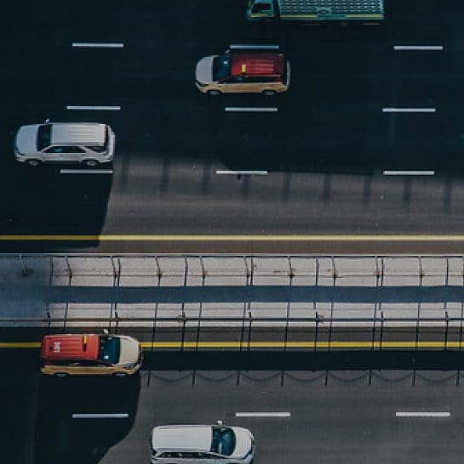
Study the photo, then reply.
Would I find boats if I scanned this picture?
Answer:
No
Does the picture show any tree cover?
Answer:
No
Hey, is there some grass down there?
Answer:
No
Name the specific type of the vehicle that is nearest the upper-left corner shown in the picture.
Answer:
car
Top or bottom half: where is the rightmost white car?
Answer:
bottom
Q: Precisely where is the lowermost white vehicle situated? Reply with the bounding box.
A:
[151,421,255,464]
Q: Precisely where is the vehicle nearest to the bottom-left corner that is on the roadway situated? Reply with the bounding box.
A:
[42,329,143,378]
